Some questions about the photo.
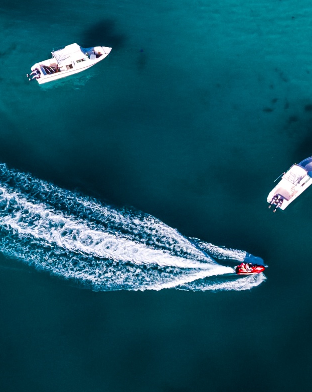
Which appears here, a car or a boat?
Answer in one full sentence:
This aerial view contains a boat.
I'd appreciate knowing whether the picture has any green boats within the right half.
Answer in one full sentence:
No, looking within the right half, there is no green boat.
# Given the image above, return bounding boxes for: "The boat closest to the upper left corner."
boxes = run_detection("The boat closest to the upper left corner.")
[24,43,111,84]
